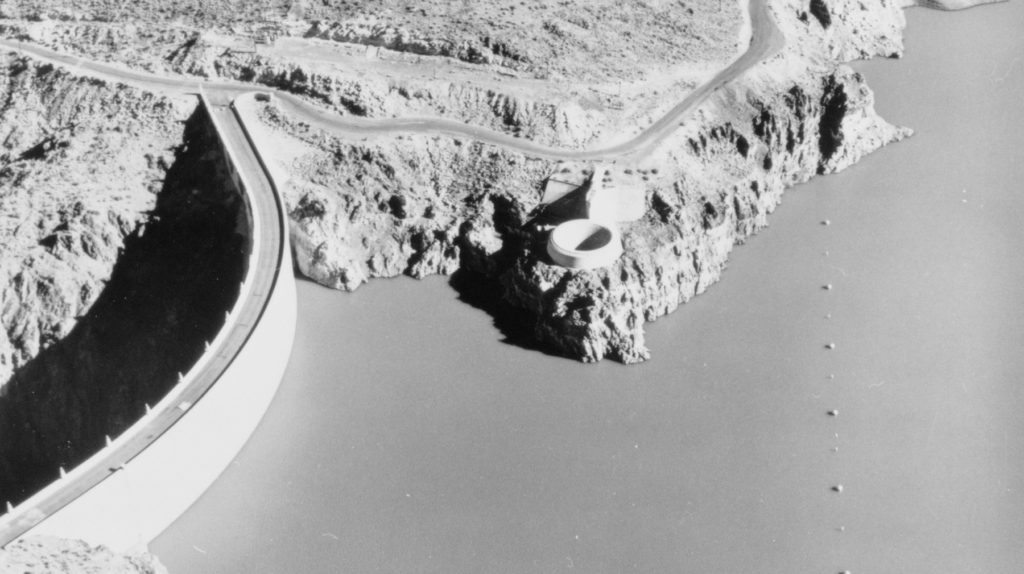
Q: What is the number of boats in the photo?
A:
0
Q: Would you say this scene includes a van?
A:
No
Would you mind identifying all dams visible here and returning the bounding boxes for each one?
[0,95,298,566]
